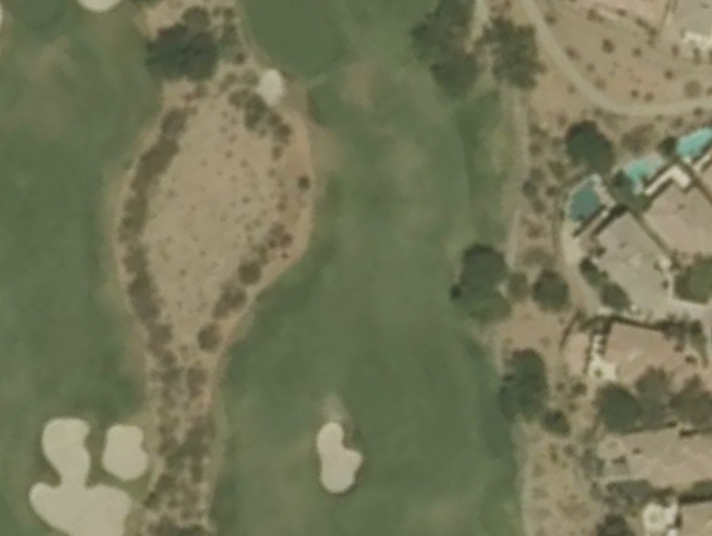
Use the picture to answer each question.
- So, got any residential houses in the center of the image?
No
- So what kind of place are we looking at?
golf course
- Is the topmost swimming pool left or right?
right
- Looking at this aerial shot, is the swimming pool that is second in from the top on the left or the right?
right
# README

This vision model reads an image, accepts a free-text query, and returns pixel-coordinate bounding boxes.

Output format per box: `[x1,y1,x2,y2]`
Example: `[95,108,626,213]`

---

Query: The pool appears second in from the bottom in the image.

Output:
[624,152,667,192]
